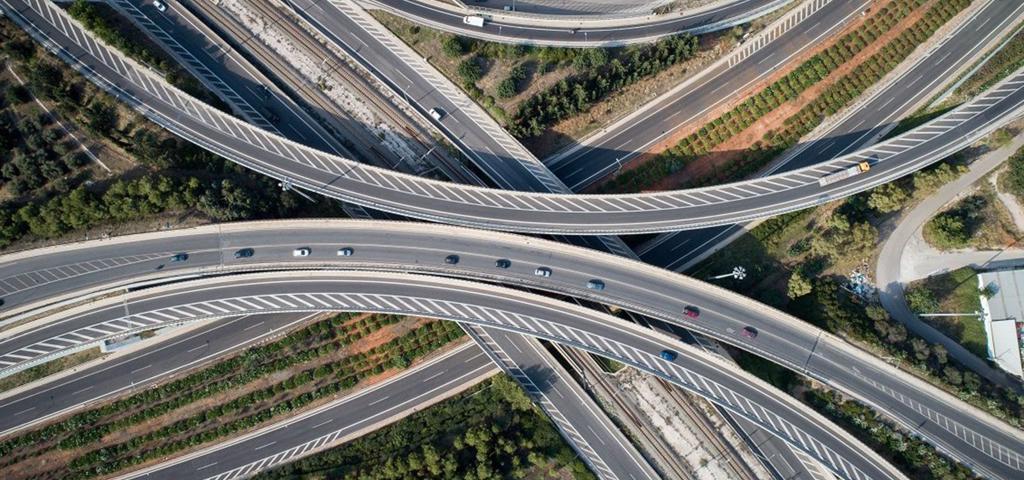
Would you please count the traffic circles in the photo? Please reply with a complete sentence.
There are no traffic circles in this view.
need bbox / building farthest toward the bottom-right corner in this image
[991,318,1022,377]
